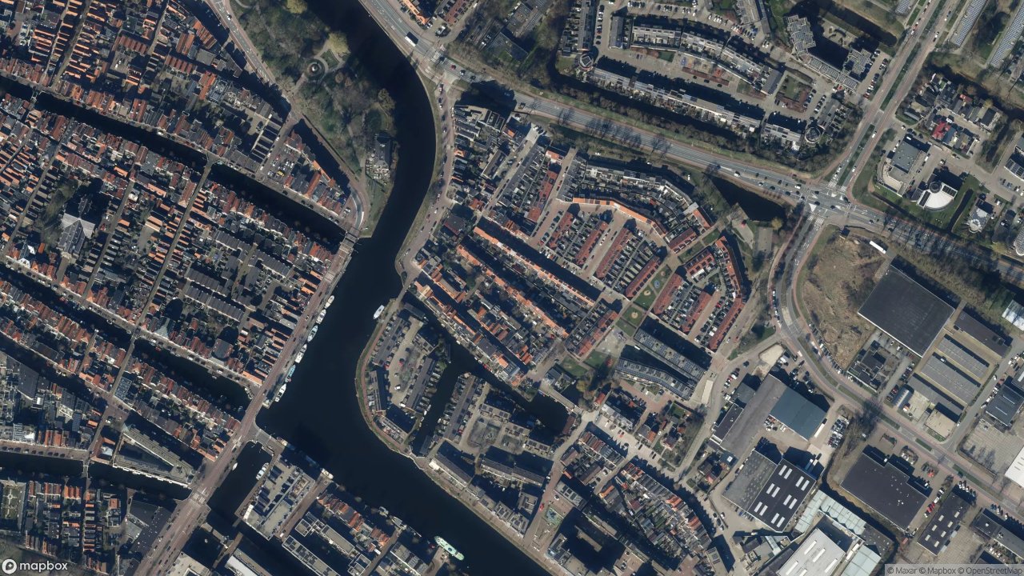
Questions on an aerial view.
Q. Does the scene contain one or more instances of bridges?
Yes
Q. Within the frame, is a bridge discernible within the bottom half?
Yes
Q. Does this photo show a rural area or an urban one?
urban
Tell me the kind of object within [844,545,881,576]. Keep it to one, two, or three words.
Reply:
greenhouse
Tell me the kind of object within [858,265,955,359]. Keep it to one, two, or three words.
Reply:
building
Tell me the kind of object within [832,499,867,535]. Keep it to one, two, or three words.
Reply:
greenhouse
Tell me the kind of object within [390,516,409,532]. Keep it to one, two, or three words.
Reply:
vessel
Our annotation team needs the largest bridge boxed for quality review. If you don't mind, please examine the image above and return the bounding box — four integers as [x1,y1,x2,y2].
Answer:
[168,454,219,517]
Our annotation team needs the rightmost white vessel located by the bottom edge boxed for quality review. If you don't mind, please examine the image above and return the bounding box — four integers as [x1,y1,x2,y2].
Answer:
[435,536,468,564]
